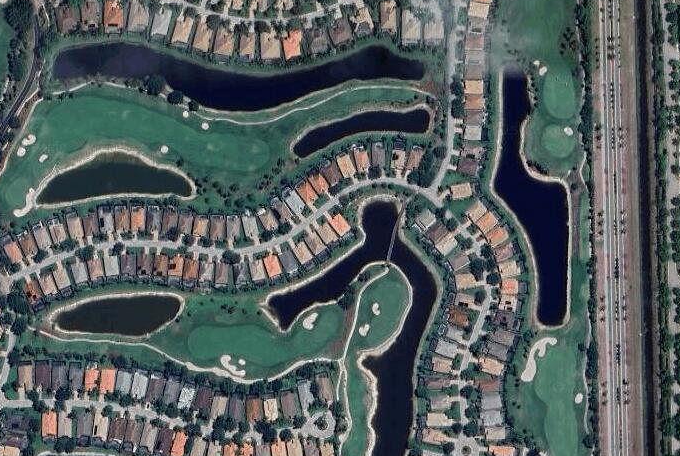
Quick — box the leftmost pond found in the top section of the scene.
[37,150,191,204]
